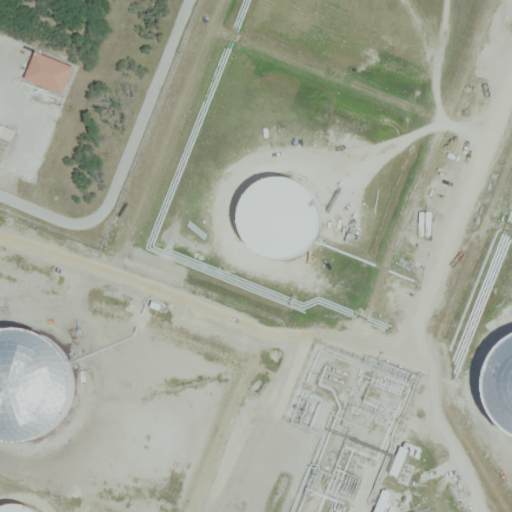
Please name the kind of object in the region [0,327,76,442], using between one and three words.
storage tank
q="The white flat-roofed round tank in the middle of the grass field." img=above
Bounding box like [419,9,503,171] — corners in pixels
[234,176,322,262]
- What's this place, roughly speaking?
industrial area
